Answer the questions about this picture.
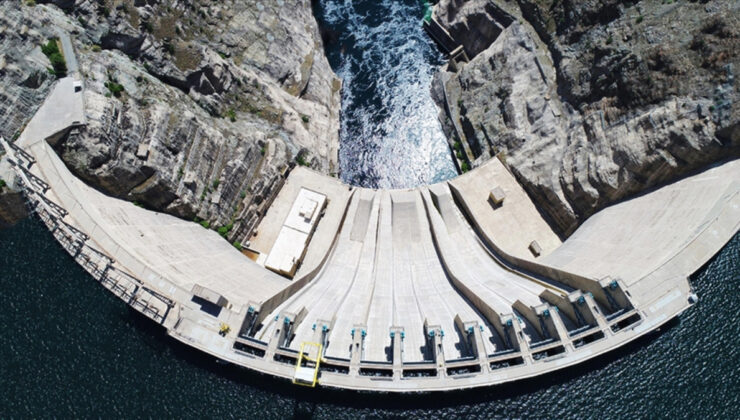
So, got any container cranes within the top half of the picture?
No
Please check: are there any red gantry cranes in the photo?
No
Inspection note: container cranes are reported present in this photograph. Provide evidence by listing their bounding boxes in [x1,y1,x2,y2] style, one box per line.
[293,342,326,388]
